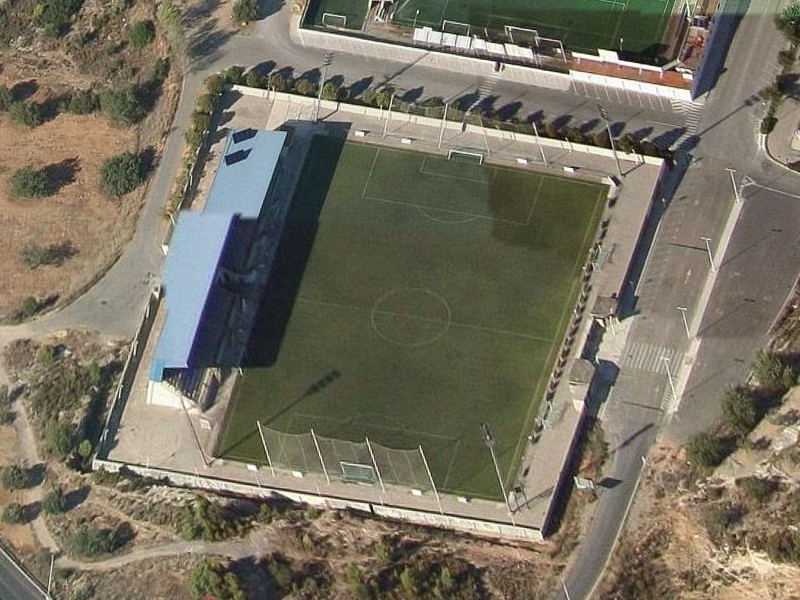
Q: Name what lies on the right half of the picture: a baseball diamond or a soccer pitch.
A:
soccer pitch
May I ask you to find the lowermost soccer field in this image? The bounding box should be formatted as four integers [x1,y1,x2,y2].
[213,135,616,503]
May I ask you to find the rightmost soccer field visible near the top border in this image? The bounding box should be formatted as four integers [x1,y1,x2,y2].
[393,0,688,70]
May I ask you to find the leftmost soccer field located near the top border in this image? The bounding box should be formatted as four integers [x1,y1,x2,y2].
[303,0,368,33]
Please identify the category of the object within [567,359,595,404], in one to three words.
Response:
shed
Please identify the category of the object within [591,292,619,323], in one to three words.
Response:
shed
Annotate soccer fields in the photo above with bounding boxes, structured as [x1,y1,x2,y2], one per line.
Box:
[303,0,368,33]
[393,0,688,70]
[213,135,616,503]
